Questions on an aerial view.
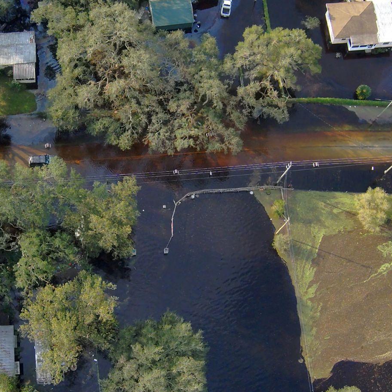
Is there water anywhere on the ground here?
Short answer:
Yes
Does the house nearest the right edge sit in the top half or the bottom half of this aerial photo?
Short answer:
top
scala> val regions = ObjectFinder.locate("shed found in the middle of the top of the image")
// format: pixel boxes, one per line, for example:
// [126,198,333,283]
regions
[149,0,194,39]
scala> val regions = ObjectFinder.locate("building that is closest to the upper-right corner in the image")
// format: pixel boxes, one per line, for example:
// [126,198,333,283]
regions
[323,0,392,54]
